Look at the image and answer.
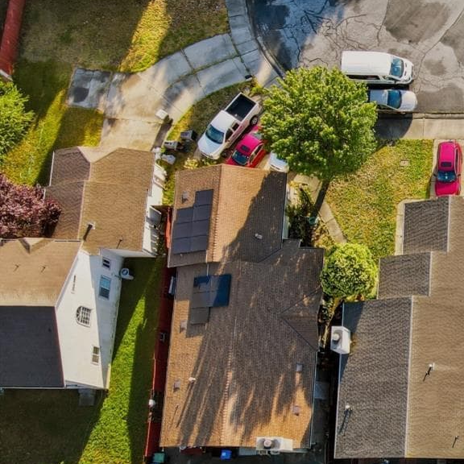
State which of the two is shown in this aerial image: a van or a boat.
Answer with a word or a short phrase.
van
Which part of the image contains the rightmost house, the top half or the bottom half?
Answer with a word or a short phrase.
bottom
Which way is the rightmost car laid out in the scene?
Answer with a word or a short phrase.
up and down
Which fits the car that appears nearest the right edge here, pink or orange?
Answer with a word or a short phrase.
pink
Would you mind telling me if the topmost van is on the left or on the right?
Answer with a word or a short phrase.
right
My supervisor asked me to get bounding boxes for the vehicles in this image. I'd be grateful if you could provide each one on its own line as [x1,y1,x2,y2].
[228,118,274,166]
[434,143,460,192]
[200,91,263,158]
[338,48,412,84]
[366,87,421,115]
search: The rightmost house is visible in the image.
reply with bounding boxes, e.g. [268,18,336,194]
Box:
[331,196,464,459]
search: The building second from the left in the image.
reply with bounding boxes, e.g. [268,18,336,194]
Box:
[159,164,329,450]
